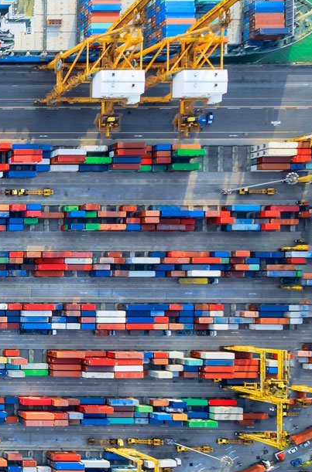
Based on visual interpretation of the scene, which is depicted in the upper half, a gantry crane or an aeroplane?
gantry crane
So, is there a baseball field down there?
No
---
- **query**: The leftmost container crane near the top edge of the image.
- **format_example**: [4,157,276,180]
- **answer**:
[41,0,148,146]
